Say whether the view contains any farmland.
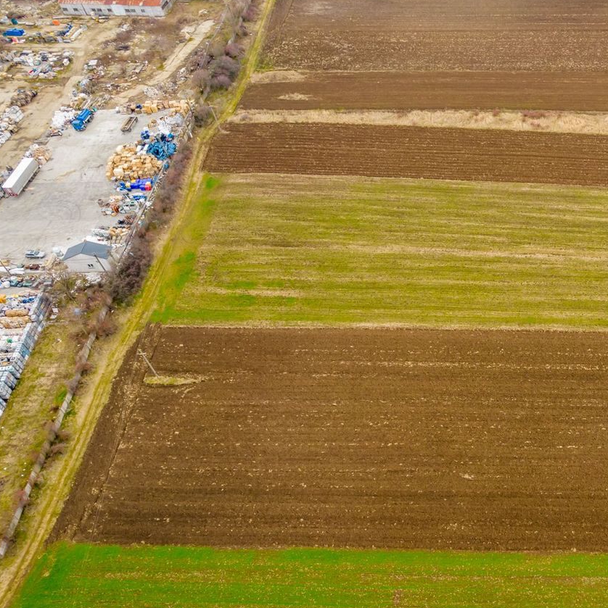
Yes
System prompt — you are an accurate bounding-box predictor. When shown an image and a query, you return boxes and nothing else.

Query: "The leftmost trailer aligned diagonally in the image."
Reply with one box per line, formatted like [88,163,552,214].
[2,157,40,199]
